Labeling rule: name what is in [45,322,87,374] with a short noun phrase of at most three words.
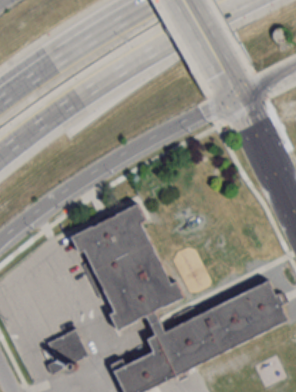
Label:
building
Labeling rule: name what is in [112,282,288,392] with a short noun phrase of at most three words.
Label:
building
